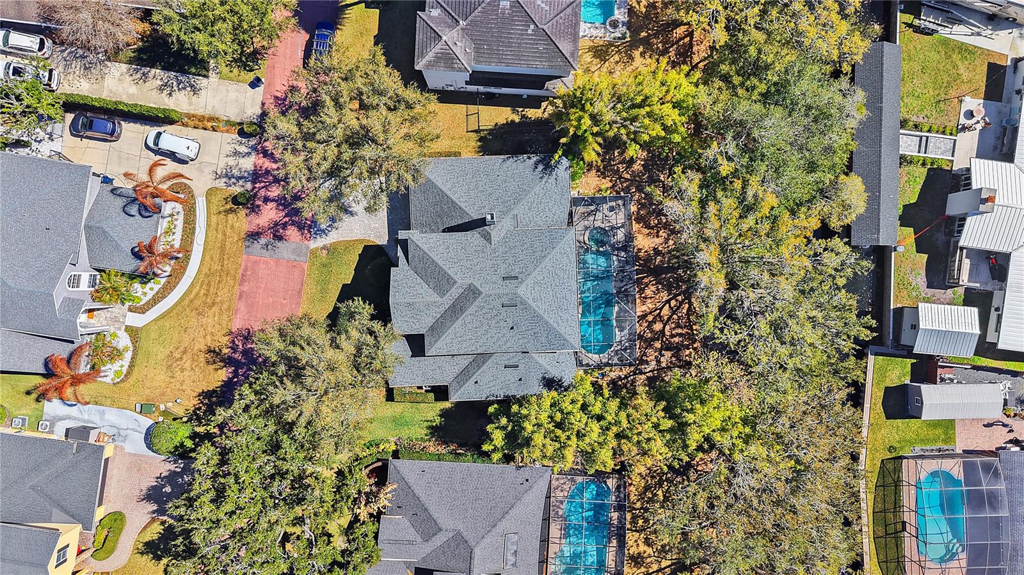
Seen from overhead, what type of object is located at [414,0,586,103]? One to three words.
house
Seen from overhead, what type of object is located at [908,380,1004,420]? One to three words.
shed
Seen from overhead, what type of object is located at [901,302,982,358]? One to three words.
shed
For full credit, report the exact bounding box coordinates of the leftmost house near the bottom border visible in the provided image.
[0,431,116,575]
